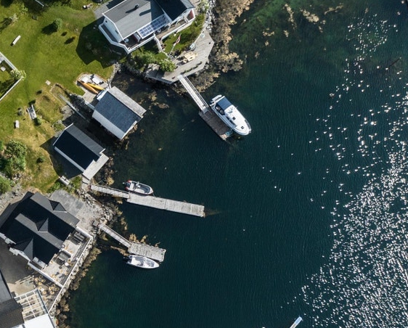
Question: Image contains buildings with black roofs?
Yes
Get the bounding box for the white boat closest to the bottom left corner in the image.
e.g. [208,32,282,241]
[124,253,159,269]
